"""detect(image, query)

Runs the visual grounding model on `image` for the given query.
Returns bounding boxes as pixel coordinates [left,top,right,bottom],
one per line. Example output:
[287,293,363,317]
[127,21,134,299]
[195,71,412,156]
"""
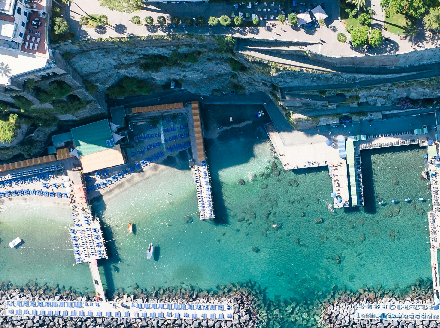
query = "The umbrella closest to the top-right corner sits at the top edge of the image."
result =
[311,4,327,19]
